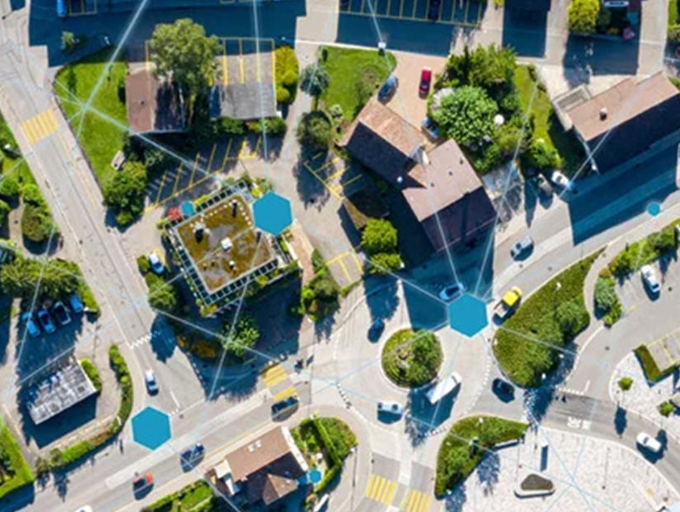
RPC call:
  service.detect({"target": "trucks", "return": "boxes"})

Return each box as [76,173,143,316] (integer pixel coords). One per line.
[425,371,462,405]
[492,288,521,318]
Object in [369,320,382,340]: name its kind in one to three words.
vehicle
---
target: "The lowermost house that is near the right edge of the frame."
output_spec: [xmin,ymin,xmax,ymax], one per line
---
[551,73,680,175]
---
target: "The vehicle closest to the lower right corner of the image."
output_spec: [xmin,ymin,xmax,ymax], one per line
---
[637,434,660,451]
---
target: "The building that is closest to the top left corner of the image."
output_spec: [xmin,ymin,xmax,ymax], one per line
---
[127,71,186,135]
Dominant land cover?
paved ground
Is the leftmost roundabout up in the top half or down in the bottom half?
bottom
